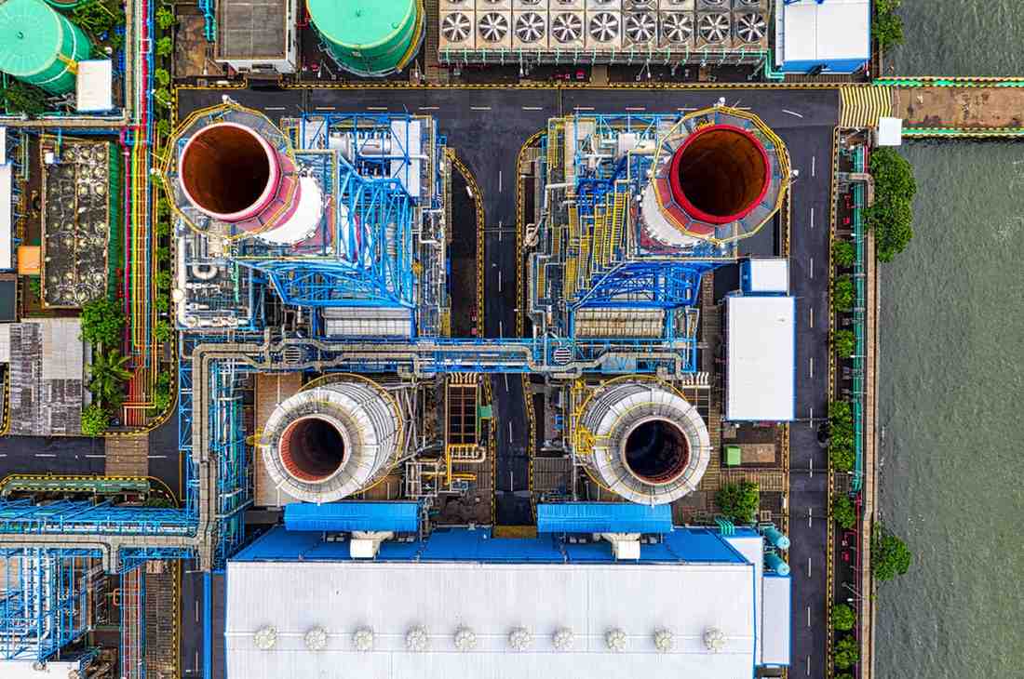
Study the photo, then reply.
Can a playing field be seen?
No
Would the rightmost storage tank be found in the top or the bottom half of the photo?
top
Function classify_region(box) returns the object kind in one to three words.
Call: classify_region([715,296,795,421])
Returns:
shed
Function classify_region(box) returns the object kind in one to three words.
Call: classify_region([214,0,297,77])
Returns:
building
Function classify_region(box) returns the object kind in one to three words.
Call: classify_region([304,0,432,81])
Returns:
storage tank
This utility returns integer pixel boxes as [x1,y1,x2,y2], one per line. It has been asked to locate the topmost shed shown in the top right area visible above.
[766,0,869,83]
